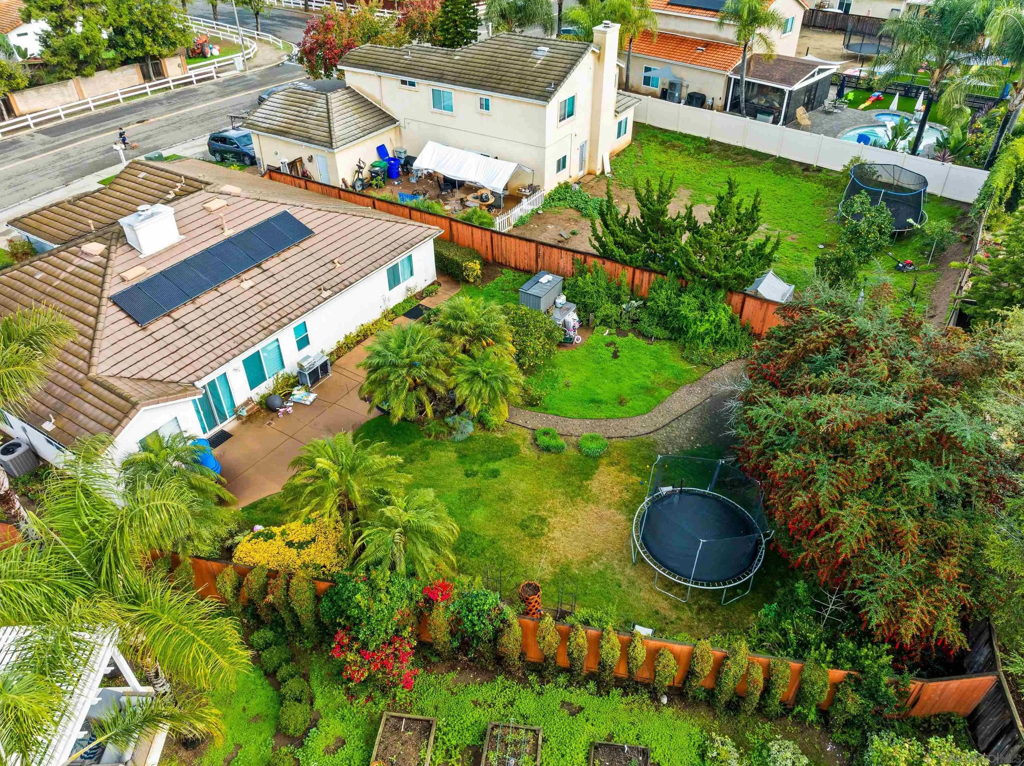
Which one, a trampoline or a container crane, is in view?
trampoline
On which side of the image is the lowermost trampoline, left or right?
right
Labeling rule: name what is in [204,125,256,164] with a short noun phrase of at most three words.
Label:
car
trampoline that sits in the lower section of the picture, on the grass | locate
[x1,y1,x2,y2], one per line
[631,446,781,606]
